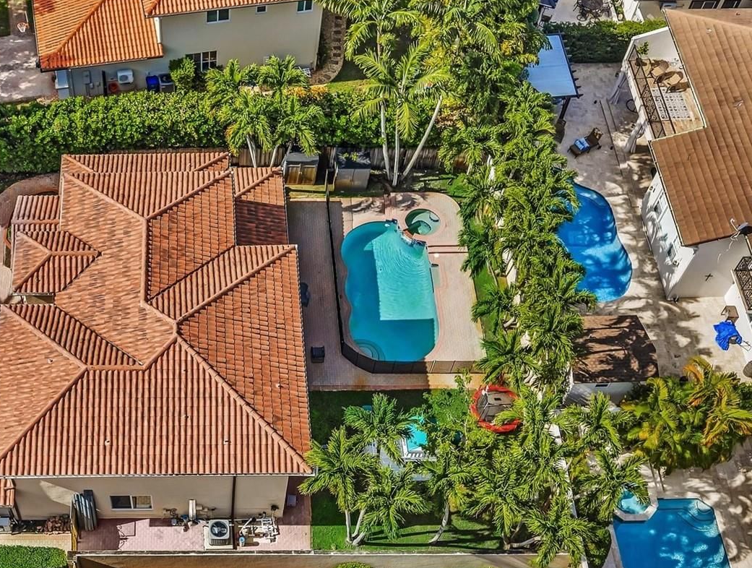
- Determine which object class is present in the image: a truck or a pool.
pool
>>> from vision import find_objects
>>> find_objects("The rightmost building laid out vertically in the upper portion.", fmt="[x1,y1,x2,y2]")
[597,2,752,357]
